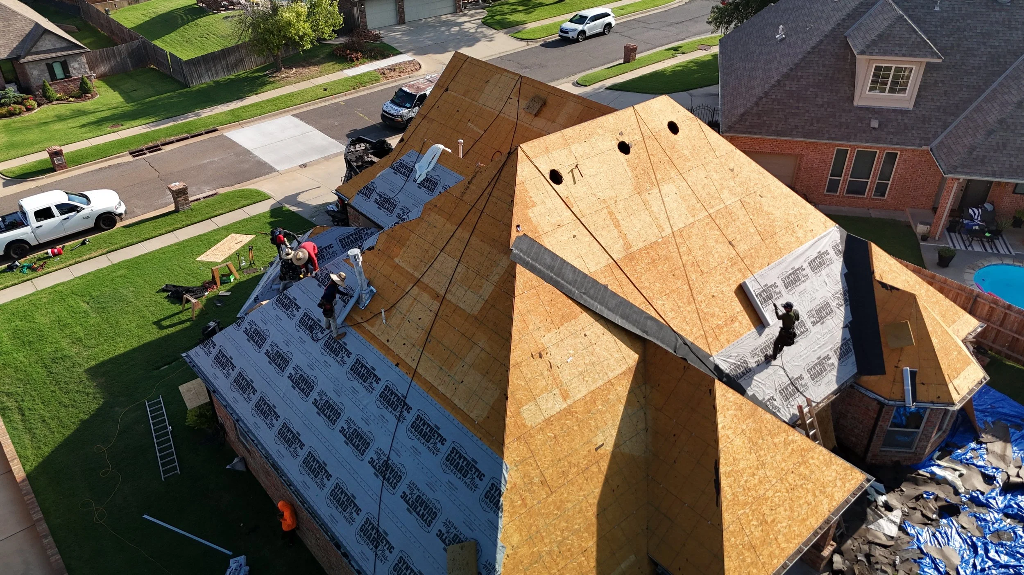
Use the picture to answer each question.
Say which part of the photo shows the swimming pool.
right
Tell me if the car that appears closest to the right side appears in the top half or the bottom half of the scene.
top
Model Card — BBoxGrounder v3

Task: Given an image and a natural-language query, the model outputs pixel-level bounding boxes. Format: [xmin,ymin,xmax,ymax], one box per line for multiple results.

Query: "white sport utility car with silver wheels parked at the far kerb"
[557,4,618,40]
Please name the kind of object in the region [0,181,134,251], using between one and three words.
truck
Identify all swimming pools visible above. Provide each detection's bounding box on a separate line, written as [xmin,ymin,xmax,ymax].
[956,254,1024,328]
